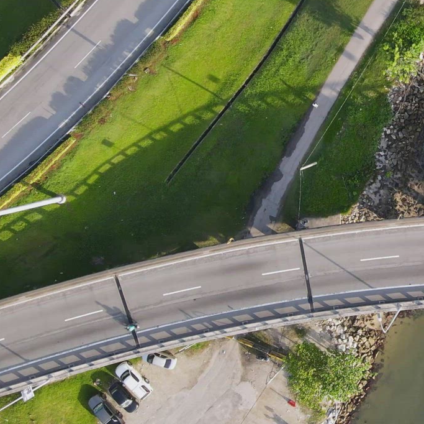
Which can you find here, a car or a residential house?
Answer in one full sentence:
Of the two, only a car appears.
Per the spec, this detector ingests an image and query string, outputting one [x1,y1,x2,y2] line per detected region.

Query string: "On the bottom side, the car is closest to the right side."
[142,352,179,370]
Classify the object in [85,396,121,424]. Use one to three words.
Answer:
truck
